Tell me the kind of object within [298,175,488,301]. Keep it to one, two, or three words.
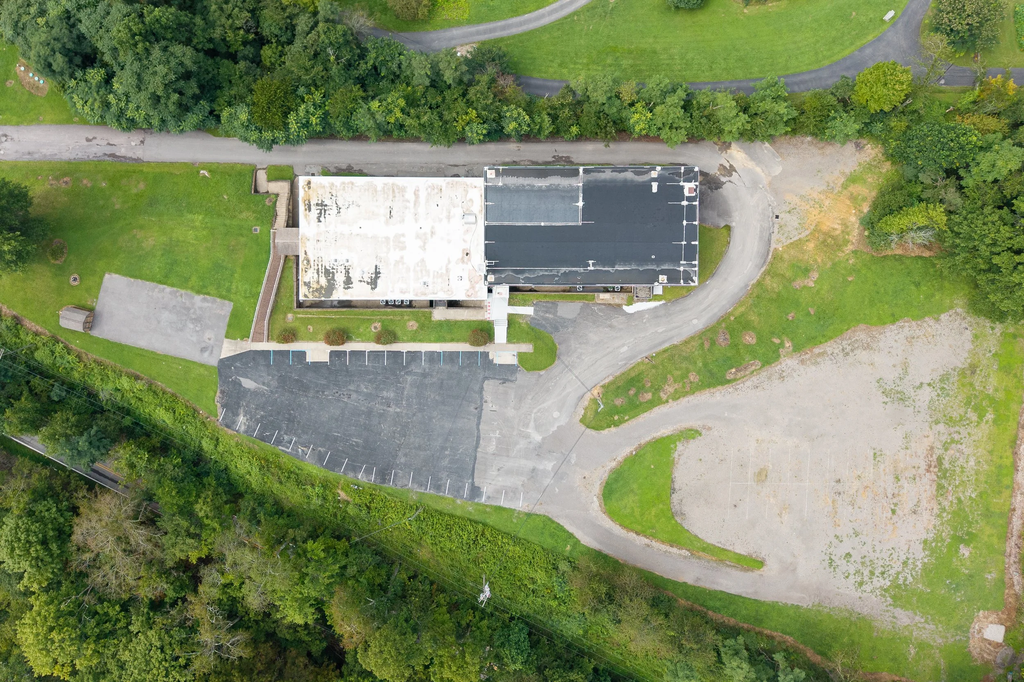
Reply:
building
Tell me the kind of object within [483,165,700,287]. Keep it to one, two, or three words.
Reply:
building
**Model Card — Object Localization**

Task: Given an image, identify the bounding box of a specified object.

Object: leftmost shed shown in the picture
[57,308,97,333]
